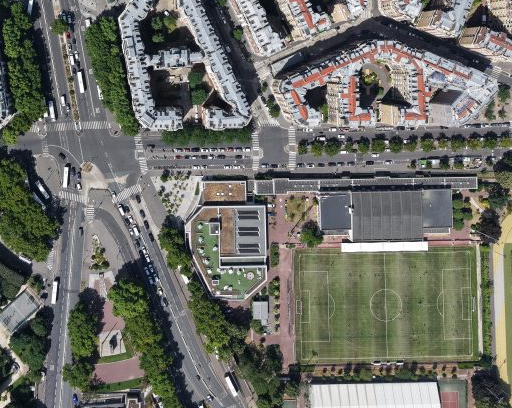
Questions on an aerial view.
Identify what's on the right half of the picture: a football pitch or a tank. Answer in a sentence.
It is a football pitch that can be seen on the right half of the picture.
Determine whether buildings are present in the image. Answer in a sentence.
Yes, this view includes a building.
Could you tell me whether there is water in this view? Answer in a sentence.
No, there's no water in this view.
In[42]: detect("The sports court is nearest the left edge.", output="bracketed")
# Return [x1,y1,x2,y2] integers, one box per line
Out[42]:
[0,288,39,334]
